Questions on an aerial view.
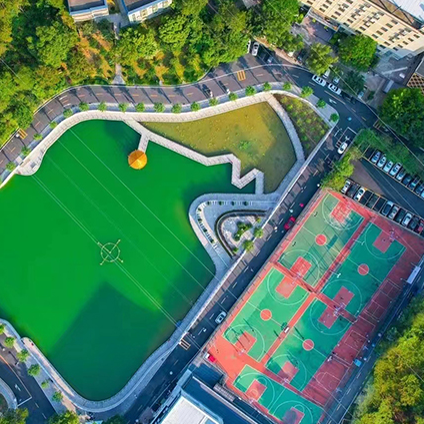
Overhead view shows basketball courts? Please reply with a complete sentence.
Yes, there is a basketball court in the image.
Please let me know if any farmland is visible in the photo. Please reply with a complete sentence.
No, no farmland is visible.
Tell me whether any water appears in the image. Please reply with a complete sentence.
Yes, there's water in this view.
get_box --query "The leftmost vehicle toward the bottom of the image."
[214,309,227,324]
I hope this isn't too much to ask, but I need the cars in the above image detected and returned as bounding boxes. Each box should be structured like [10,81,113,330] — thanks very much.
[362,191,373,206]
[354,187,365,201]
[414,180,424,195]
[283,215,296,230]
[387,205,399,220]
[388,162,400,177]
[393,208,404,223]
[401,173,412,187]
[337,89,352,102]
[311,74,326,86]
[375,154,387,169]
[251,41,259,56]
[321,70,330,80]
[369,149,381,165]
[330,72,341,85]
[408,176,420,191]
[264,52,275,66]
[347,182,358,197]
[326,82,341,93]
[408,216,419,230]
[381,159,393,173]
[340,179,351,194]
[336,141,348,155]
[381,201,393,216]
[415,219,424,234]
[214,309,227,324]
[400,212,412,227]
